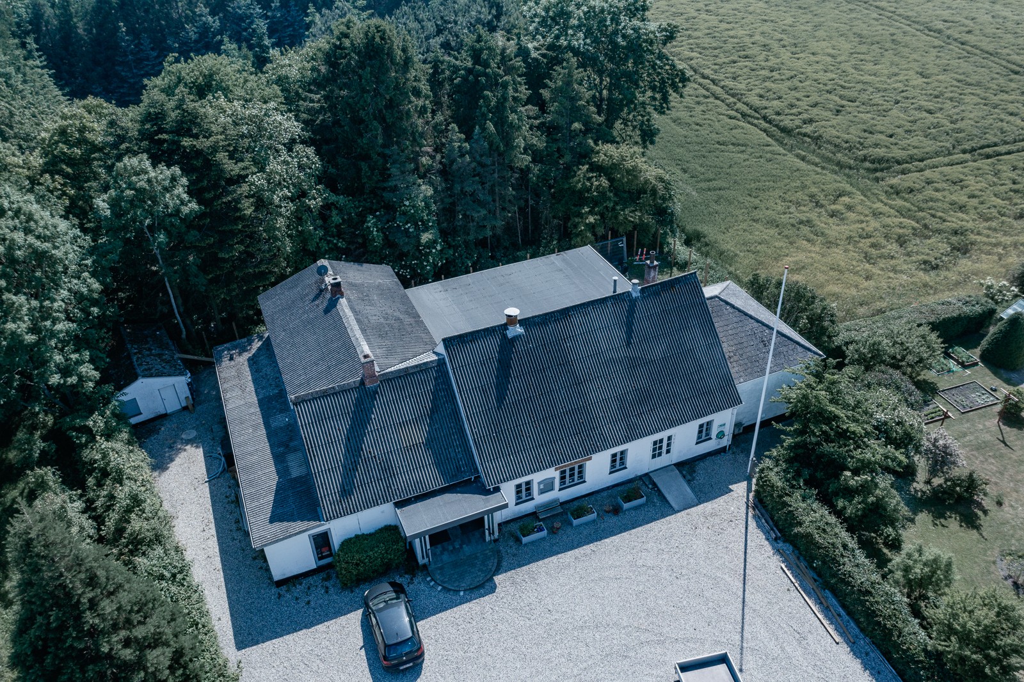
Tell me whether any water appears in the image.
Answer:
No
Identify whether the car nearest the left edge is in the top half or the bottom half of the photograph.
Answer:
bottom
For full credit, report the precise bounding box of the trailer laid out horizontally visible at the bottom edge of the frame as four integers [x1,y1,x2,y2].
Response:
[673,648,745,682]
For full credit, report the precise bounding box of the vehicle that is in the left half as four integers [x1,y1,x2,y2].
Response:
[363,581,428,679]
